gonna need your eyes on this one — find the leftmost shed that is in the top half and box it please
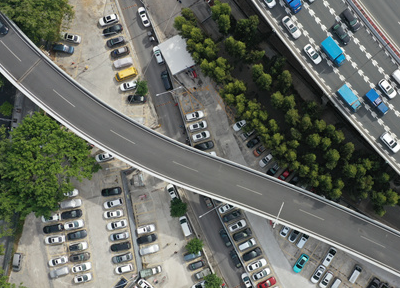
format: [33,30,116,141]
[158,35,199,78]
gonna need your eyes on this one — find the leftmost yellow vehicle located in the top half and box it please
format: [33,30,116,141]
[115,67,139,81]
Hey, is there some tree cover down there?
Yes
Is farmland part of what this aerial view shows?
No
